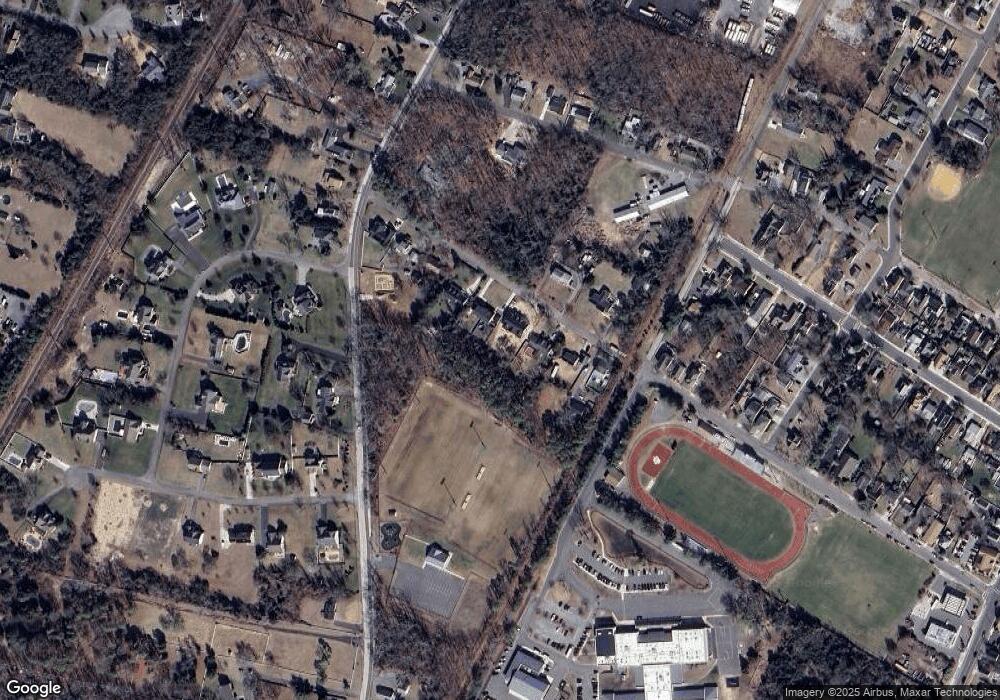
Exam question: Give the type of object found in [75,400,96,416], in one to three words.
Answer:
swimming pool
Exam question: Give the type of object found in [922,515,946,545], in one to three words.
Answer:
house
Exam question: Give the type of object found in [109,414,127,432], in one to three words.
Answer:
swimming pool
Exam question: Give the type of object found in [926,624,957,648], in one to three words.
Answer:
building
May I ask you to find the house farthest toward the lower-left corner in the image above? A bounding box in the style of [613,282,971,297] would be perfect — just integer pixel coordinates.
[31,511,57,538]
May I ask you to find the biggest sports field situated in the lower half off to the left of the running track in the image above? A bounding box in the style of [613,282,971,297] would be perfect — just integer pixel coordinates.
[379,379,559,571]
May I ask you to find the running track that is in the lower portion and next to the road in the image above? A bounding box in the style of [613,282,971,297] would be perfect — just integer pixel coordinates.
[622,424,809,583]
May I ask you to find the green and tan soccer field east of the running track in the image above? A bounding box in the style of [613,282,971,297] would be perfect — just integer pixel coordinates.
[769,512,937,656]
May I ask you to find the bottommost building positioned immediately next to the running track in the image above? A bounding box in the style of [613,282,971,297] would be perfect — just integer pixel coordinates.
[596,622,719,700]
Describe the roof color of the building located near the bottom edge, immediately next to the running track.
white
